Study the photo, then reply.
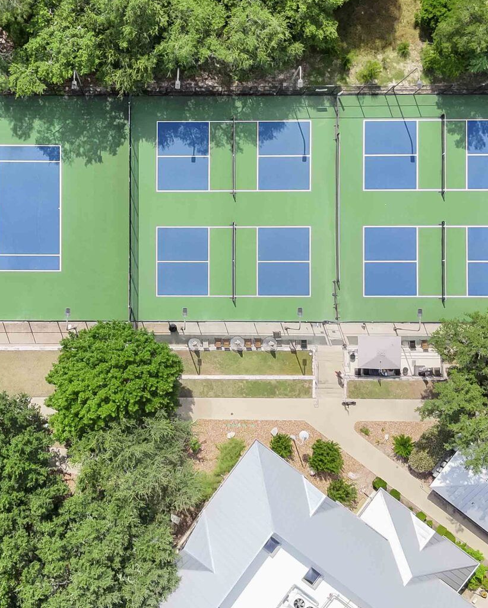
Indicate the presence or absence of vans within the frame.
No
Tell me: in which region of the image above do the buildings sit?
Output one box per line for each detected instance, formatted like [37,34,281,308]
[137,441,484,608]
[428,425,488,529]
